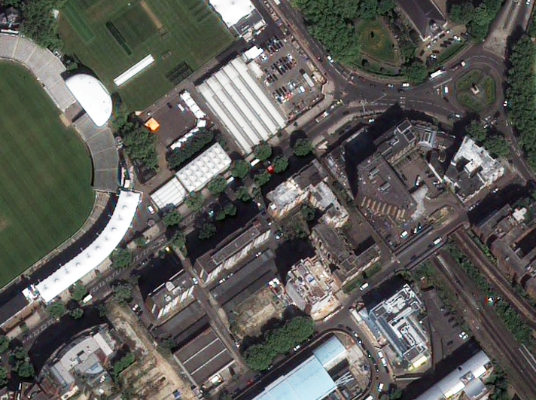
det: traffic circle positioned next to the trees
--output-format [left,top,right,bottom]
[455,67,496,110]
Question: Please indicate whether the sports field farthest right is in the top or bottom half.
top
